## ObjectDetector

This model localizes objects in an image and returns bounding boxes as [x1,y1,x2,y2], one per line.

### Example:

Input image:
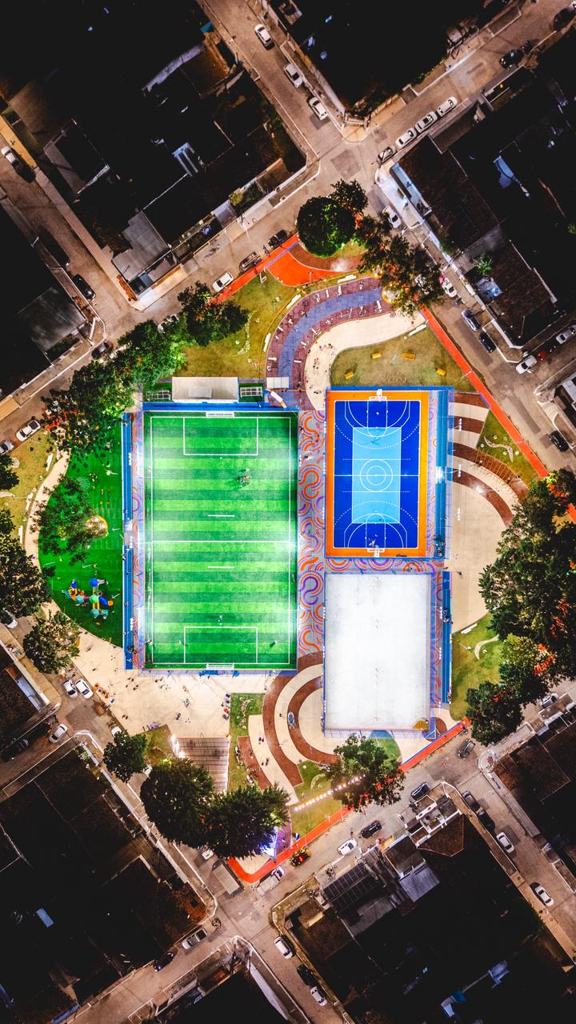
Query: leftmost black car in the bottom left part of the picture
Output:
[2,740,27,760]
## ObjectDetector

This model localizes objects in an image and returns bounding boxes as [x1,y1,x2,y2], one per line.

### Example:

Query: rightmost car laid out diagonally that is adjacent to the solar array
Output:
[360,820,383,841]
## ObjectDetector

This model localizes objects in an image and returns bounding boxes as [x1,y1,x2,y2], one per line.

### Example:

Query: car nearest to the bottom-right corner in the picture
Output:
[534,884,554,907]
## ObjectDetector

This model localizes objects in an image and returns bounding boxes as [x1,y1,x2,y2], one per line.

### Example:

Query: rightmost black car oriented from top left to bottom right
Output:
[549,429,570,452]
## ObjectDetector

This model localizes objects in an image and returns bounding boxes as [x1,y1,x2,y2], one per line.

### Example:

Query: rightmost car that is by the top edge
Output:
[552,8,576,30]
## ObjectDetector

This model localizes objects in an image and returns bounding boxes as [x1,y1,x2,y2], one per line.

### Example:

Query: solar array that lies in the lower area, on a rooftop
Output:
[326,852,388,909]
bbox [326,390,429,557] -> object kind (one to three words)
basketball court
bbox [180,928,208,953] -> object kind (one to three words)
truck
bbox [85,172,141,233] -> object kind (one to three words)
house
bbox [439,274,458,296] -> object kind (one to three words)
car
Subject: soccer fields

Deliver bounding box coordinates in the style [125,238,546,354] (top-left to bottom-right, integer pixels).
[144,412,298,670]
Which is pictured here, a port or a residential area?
residential area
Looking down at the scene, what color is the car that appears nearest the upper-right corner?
black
